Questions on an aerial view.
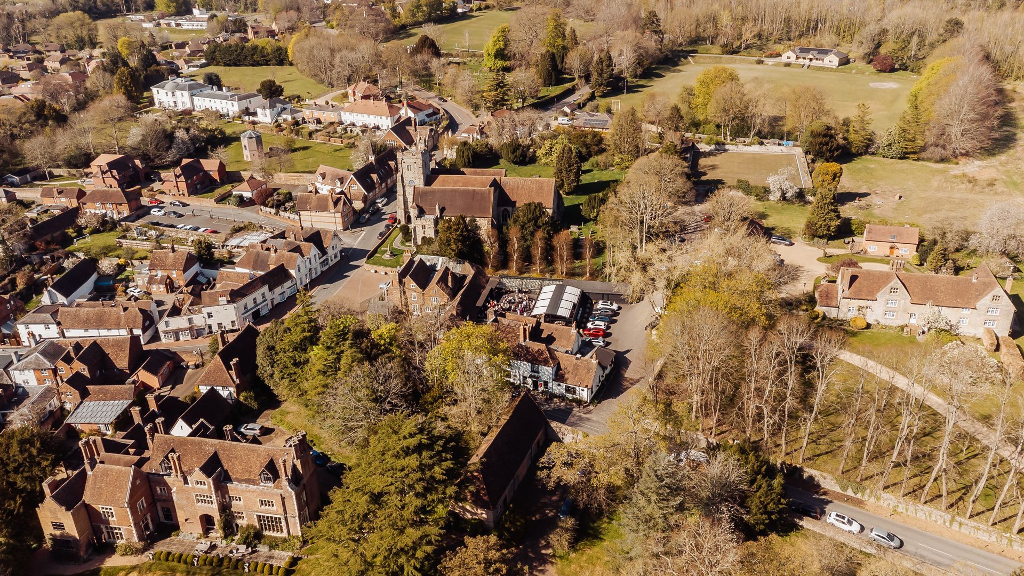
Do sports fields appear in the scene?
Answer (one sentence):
Yes, there's a sports field down there.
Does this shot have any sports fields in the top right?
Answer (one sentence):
Yes, I can see a sports field in the top right.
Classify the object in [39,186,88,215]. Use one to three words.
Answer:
house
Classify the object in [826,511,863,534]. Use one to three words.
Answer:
car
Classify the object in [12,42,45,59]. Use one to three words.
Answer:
house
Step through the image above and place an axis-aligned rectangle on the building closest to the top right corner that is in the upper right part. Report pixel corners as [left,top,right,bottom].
[773,47,845,67]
